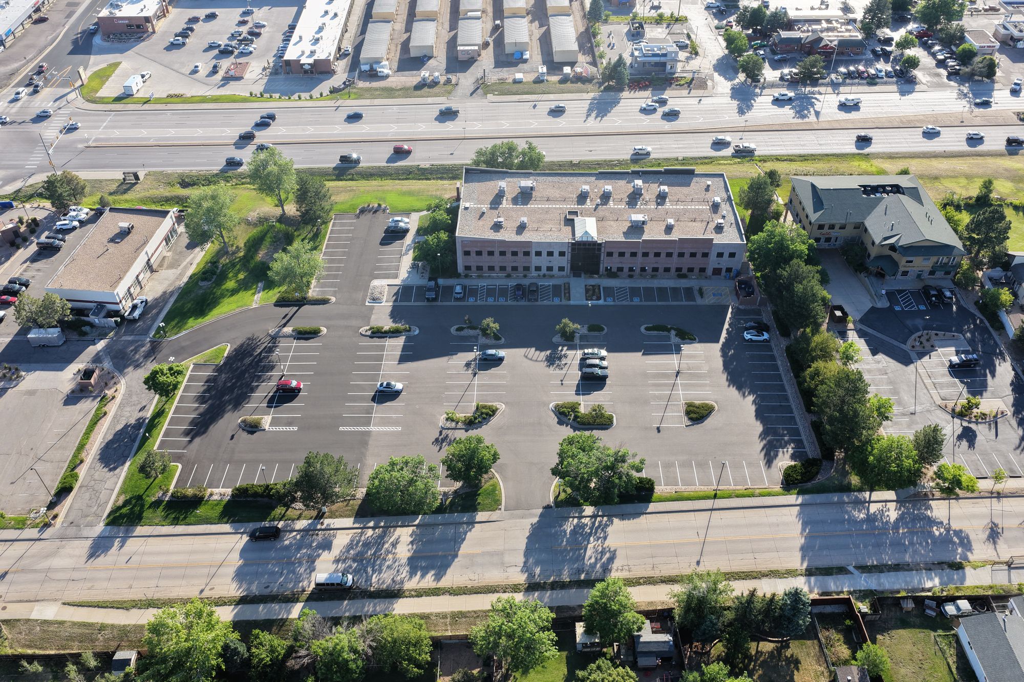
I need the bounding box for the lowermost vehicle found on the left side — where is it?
[315,571,353,590]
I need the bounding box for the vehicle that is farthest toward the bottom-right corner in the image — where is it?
[937,599,993,619]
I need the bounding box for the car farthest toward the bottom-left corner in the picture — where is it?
[249,526,281,542]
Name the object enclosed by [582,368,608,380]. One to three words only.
vehicle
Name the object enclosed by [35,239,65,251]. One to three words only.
vehicle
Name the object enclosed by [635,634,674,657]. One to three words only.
shed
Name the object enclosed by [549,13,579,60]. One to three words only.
building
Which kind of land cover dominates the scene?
paved ground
